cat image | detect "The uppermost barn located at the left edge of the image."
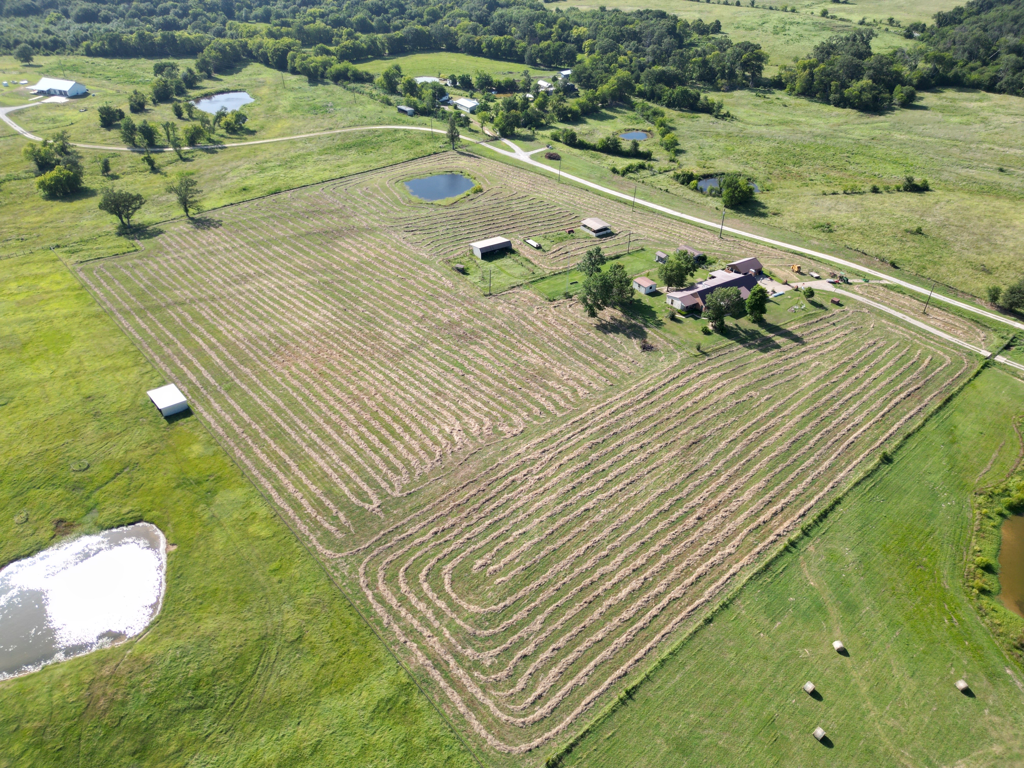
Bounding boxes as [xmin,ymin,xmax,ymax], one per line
[21,81,89,97]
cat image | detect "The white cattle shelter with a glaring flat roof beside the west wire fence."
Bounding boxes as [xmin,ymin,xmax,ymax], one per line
[144,380,189,418]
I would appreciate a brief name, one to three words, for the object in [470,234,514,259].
barn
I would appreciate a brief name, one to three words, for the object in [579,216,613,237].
barn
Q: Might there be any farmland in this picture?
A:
Yes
